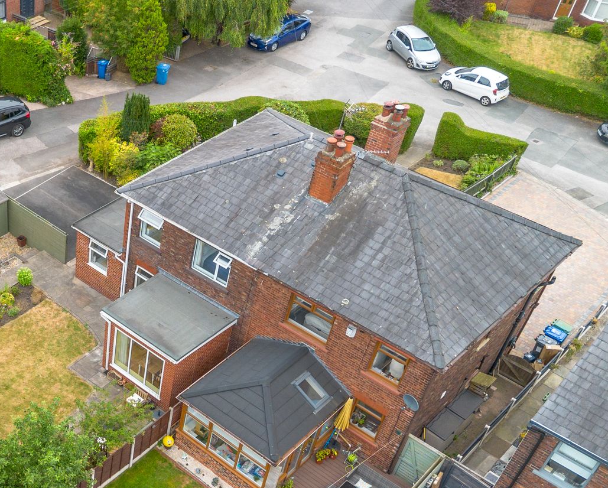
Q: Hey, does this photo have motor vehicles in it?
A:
Yes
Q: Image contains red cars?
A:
No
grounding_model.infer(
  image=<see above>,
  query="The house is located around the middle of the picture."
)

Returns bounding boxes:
[67,99,585,488]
